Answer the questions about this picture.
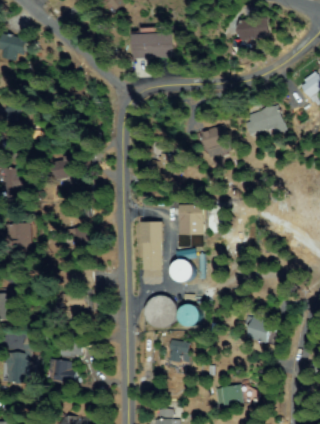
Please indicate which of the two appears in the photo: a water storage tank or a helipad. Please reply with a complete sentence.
The one in the frame is a water storage tank.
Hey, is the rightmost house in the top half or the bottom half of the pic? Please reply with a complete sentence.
The top half of the photo is where the rightmost house is.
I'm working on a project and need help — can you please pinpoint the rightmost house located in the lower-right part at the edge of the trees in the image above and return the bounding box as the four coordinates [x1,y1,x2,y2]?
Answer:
[246,314,276,342]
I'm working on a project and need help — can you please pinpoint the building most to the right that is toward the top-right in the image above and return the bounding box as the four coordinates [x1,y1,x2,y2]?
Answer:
[300,72,320,106]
